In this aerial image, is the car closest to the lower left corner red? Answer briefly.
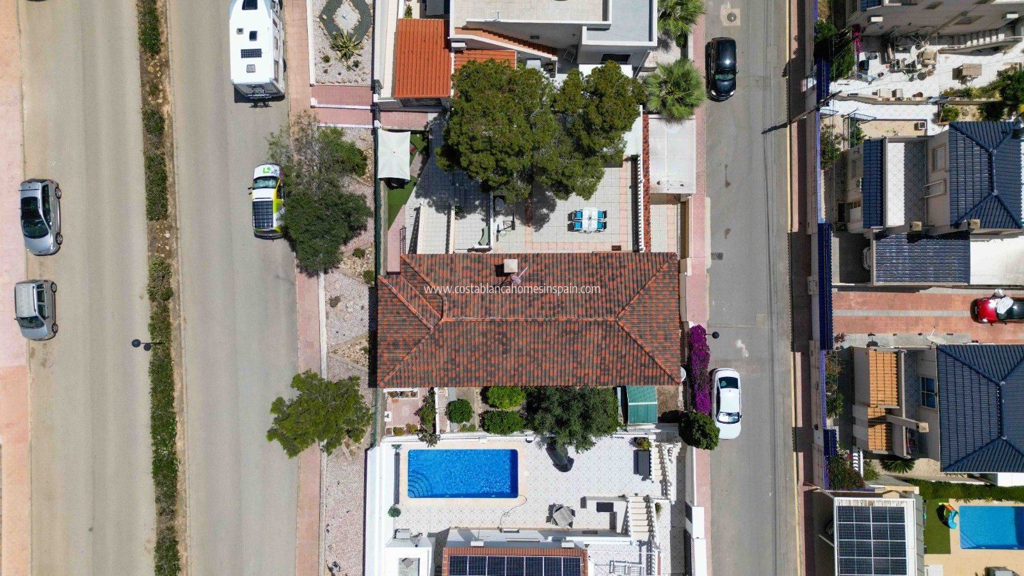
No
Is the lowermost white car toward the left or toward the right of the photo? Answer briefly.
right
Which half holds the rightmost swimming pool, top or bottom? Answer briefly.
bottom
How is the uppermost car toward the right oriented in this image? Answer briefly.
up and down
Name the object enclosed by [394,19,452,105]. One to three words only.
building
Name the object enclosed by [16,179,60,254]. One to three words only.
car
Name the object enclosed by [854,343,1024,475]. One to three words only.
house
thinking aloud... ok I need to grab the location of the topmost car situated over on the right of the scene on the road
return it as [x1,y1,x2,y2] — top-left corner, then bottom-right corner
[706,35,741,103]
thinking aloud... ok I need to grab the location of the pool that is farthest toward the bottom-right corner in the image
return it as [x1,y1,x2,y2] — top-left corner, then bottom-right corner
[956,503,1024,551]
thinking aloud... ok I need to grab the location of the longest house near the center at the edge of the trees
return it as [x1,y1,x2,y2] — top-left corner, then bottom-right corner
[376,252,690,389]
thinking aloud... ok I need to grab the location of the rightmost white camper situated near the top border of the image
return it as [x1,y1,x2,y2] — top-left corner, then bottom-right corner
[229,0,287,104]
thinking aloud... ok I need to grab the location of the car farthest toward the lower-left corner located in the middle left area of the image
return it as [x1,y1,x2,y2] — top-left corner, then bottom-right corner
[10,278,55,341]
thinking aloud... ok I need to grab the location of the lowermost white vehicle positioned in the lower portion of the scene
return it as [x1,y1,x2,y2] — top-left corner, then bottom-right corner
[711,367,747,440]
